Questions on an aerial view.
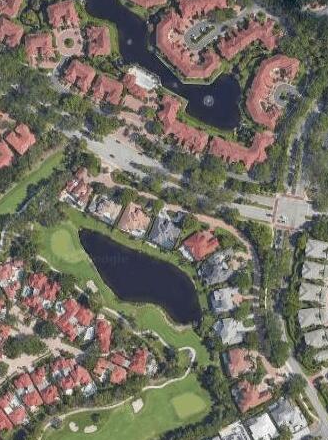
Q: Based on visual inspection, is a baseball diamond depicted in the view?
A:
No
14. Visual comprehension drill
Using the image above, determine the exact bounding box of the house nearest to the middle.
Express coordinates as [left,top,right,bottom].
[148,209,184,248]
